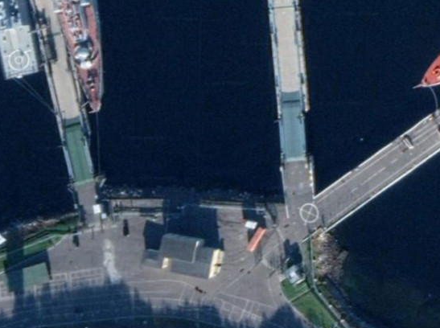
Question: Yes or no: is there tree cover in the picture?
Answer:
No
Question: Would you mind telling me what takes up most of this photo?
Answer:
water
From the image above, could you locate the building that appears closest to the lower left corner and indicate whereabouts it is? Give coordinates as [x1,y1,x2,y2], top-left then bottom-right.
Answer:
[3,263,54,291]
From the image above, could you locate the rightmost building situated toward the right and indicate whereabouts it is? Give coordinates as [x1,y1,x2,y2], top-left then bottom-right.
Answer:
[285,265,309,285]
